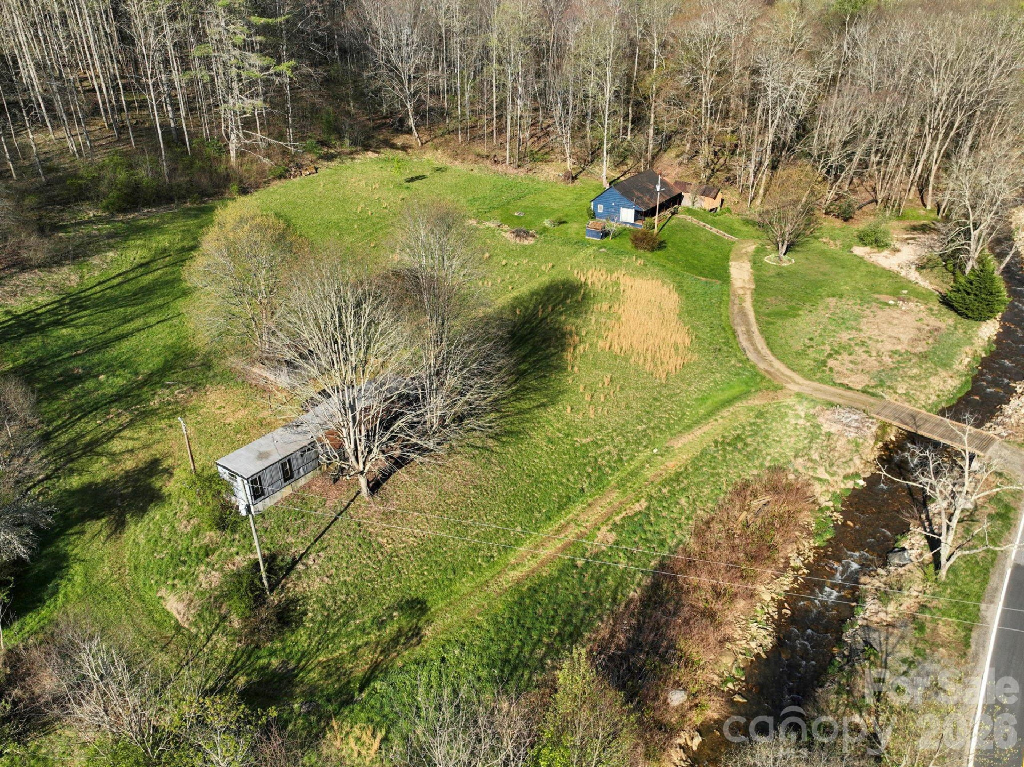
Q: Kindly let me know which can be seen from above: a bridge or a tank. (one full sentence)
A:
Visible in the photo is a bridge.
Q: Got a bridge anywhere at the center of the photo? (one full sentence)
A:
No, no bridge appears at the center of the photo.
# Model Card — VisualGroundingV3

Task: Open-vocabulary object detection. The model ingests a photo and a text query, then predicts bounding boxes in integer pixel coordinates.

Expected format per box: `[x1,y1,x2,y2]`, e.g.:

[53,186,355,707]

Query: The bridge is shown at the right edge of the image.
[862,398,1006,467]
